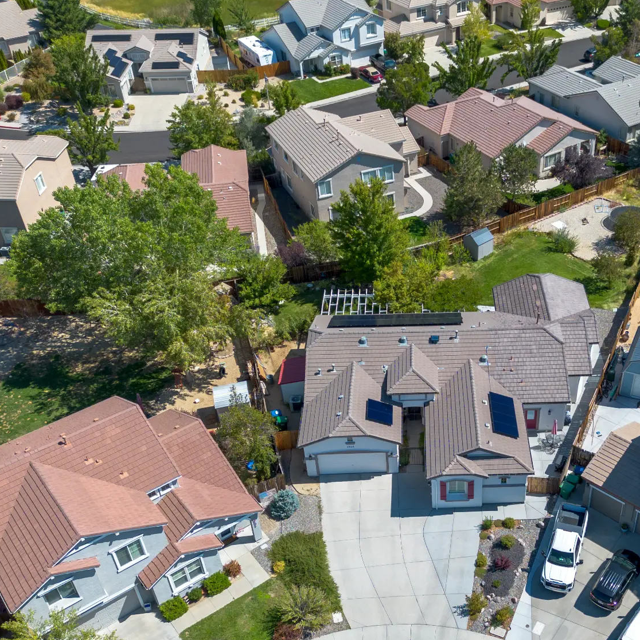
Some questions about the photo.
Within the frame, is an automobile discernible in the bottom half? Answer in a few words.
Yes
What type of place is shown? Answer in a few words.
residential area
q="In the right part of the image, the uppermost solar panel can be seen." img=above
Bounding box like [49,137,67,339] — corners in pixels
[330,314,461,327]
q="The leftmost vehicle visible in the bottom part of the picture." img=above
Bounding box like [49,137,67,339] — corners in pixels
[541,506,587,591]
